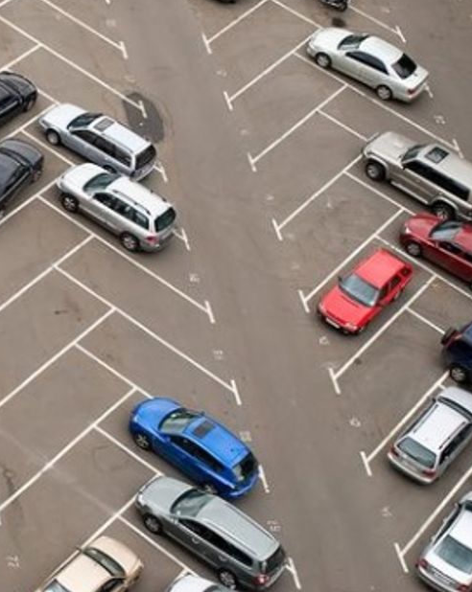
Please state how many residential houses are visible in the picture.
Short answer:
zero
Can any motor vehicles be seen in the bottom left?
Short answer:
Yes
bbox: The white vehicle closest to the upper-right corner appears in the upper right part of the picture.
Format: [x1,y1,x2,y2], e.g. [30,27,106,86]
[311,30,426,105]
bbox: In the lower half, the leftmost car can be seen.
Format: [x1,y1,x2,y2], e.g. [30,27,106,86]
[43,538,147,592]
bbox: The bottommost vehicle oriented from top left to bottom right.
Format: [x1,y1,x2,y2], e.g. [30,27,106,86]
[138,477,291,592]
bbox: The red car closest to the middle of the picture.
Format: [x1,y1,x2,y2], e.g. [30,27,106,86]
[319,250,413,337]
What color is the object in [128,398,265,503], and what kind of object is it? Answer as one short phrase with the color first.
blue car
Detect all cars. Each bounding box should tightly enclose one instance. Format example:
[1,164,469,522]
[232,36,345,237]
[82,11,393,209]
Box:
[38,101,163,185]
[417,493,472,592]
[400,213,472,286]
[434,313,472,385]
[0,68,42,127]
[155,569,235,592]
[361,132,472,223]
[311,30,426,105]
[0,141,50,215]
[128,398,265,503]
[59,167,181,255]
[138,477,291,592]
[319,250,413,337]
[43,538,147,592]
[389,385,472,484]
